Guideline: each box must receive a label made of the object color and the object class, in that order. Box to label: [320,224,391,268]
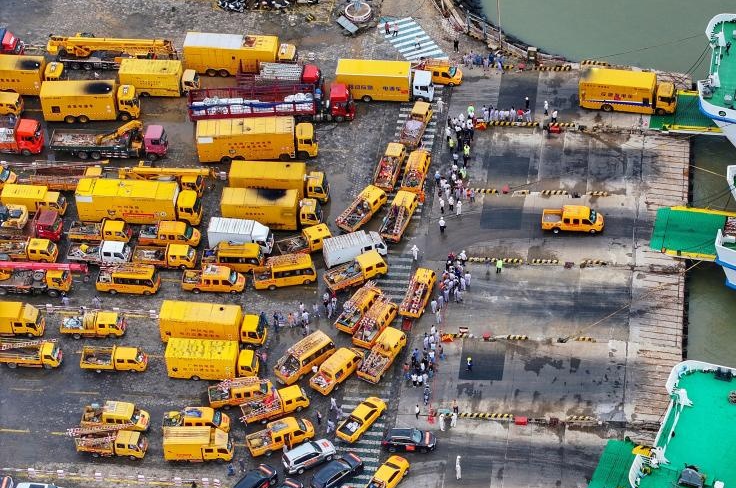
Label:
white truck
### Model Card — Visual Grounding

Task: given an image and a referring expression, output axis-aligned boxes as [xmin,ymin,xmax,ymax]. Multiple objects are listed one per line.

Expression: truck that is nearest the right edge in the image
[579,67,680,114]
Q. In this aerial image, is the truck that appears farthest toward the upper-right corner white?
No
